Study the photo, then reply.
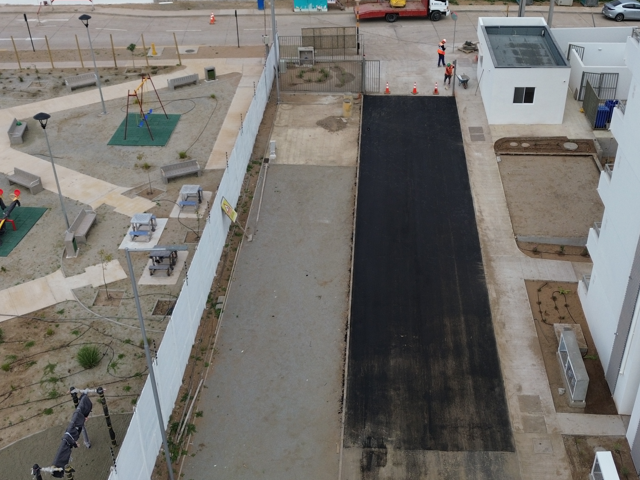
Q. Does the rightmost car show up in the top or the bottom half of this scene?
top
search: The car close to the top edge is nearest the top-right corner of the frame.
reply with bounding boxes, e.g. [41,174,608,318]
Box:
[604,0,640,23]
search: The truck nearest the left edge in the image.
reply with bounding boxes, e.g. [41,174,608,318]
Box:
[350,0,452,23]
